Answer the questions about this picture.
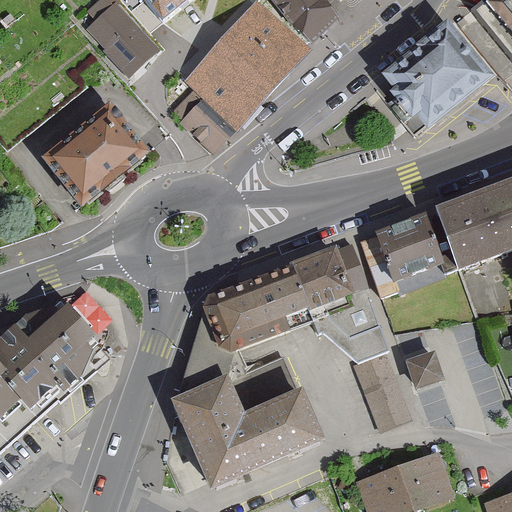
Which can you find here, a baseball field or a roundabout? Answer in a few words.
roundabout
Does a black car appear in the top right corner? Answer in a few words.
Yes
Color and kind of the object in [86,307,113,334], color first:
red umbrella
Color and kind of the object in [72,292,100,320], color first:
red umbrella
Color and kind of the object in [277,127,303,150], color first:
white vehicle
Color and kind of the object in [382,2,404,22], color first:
black car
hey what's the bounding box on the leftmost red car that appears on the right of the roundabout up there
[316,226,337,240]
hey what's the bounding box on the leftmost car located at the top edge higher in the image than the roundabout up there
[185,6,204,26]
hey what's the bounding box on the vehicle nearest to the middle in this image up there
[237,237,258,252]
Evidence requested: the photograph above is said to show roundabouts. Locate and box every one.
[112,170,250,294]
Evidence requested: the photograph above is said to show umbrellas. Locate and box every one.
[86,307,113,334]
[72,292,100,320]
